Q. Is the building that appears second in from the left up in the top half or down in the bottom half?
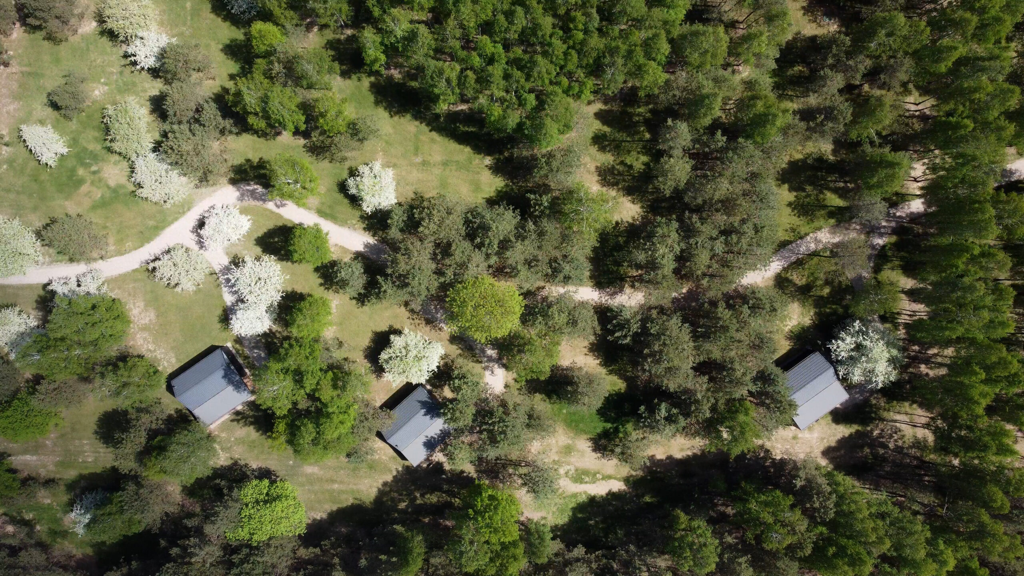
bottom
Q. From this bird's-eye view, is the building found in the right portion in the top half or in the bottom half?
bottom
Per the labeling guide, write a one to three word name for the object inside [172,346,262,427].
building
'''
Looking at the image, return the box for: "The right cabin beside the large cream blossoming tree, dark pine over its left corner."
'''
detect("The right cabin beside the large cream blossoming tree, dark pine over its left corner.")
[778,348,851,432]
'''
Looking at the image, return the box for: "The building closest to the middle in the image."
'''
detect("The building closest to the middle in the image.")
[377,382,458,467]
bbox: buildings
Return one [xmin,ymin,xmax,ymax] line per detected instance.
[377,382,458,467]
[778,348,851,432]
[172,346,262,427]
